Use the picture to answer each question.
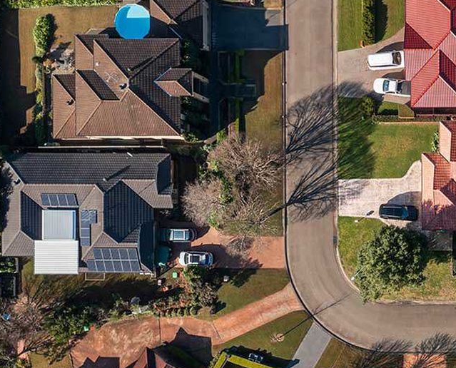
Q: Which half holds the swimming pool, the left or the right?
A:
left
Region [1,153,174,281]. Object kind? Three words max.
house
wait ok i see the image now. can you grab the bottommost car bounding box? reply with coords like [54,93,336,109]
[178,250,214,267]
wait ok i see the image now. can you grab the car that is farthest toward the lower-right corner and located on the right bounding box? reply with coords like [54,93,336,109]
[380,204,418,220]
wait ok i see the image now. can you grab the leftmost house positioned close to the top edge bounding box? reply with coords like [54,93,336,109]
[51,0,214,138]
